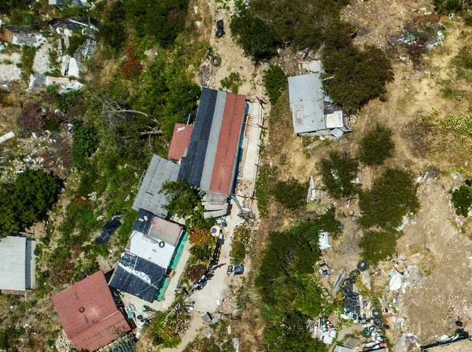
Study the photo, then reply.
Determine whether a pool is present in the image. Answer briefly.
No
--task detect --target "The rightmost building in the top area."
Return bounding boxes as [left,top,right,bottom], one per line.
[287,72,343,141]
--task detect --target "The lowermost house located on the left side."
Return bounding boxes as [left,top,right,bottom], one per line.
[52,269,144,352]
